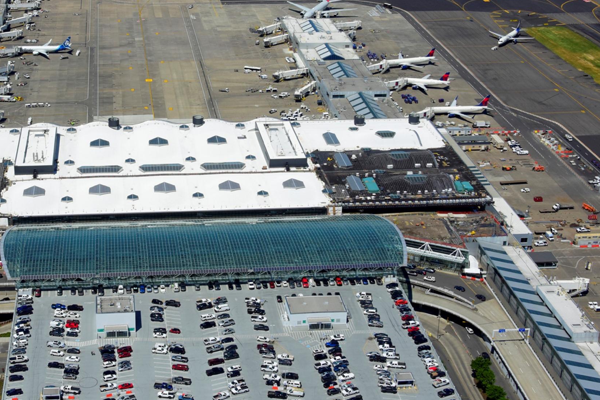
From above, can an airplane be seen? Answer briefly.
Yes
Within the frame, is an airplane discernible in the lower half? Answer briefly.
No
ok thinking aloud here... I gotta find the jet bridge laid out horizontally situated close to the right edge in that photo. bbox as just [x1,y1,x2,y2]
[547,276,593,295]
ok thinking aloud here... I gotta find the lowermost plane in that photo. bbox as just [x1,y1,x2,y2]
[420,92,497,118]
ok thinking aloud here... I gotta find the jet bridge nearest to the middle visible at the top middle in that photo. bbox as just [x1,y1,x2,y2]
[292,81,314,101]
